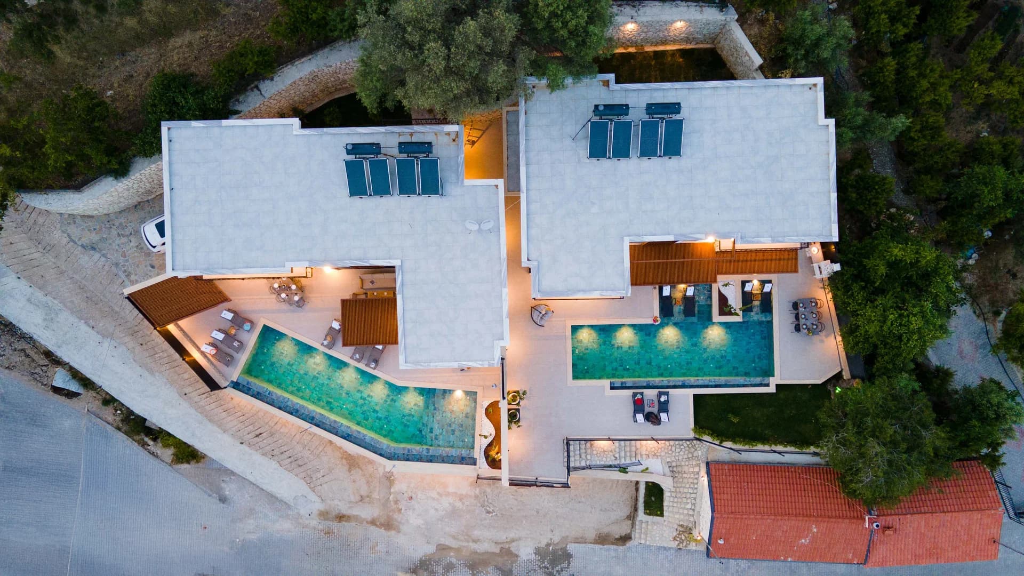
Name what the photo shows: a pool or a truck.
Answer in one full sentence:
The one in the frame is a pool.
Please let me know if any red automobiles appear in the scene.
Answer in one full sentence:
No, no red automobile is visible in the view.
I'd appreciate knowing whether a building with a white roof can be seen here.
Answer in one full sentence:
Yes, this view includes a building with a white roof.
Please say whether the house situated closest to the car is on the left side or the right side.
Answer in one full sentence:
You can find the house situated closest to the car on the left side of the picture.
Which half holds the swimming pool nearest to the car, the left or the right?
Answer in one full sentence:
You can find the swimming pool nearest to the car on the left side of the picture.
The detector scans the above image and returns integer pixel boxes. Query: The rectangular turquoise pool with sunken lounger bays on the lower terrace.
[566,274,781,393]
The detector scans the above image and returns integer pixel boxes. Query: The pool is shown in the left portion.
[221,318,483,477]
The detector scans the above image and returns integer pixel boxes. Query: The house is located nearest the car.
[162,118,510,369]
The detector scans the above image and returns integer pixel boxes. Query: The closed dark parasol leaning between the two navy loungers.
[645,410,665,428]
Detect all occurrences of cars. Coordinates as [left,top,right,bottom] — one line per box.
[133,212,166,253]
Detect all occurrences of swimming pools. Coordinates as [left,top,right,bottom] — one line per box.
[221,318,483,477]
[566,274,781,393]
